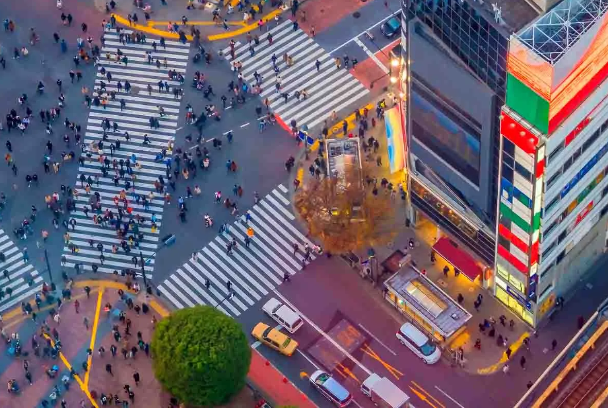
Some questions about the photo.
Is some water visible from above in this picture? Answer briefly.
No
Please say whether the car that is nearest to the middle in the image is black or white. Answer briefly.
white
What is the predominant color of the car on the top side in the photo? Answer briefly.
blue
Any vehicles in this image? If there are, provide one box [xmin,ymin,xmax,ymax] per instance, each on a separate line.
[308,371,352,408]
[358,366,413,408]
[372,11,405,43]
[252,321,298,360]
[261,298,305,337]
[395,321,439,364]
